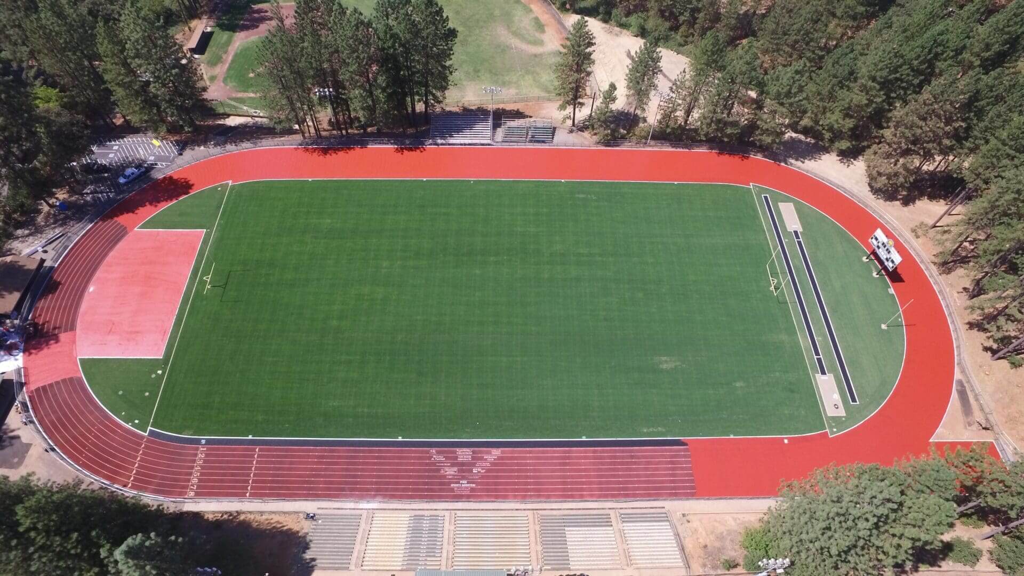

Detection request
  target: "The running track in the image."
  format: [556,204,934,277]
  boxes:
[23,146,1011,500]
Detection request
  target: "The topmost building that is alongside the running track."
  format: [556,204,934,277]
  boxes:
[0,255,47,325]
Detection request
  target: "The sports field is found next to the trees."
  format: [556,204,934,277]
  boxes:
[150,179,828,439]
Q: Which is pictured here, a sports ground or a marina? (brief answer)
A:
sports ground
